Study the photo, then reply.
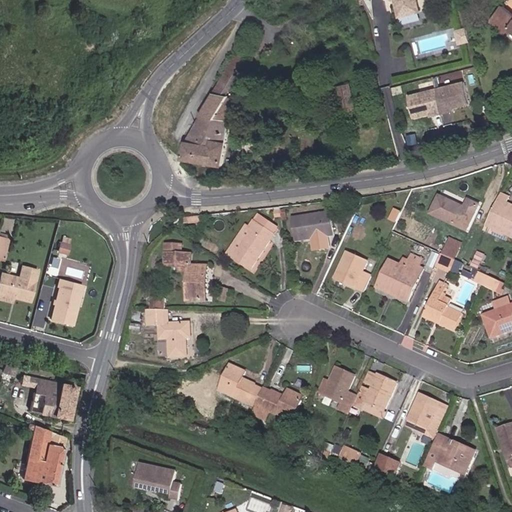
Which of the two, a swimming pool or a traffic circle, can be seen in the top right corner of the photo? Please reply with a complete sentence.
There is a swimming pool in the top right corner of the photo.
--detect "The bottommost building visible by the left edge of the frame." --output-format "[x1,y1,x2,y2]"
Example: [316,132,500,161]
[25,426,68,485]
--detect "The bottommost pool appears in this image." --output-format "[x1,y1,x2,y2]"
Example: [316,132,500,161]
[425,469,462,494]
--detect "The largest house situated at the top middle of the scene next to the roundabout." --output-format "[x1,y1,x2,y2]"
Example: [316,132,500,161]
[178,92,233,168]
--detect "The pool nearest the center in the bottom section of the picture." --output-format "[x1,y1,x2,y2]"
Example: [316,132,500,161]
[296,362,314,375]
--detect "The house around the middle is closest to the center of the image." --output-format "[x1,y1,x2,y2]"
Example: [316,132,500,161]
[229,214,280,272]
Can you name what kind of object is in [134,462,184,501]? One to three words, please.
house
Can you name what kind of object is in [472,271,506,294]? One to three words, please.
shed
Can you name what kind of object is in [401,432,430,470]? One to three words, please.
swimming pool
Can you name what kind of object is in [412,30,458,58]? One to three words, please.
swimming pool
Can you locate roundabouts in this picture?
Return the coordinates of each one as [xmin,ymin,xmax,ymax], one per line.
[72,126,172,229]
